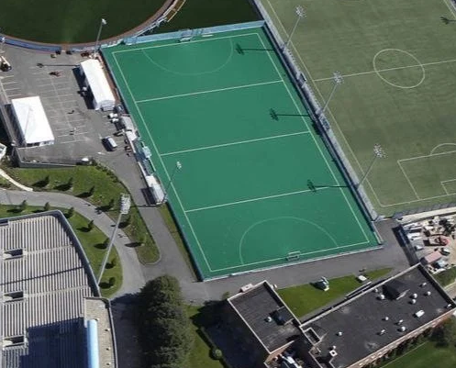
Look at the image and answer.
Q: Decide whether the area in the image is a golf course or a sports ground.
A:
sports ground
